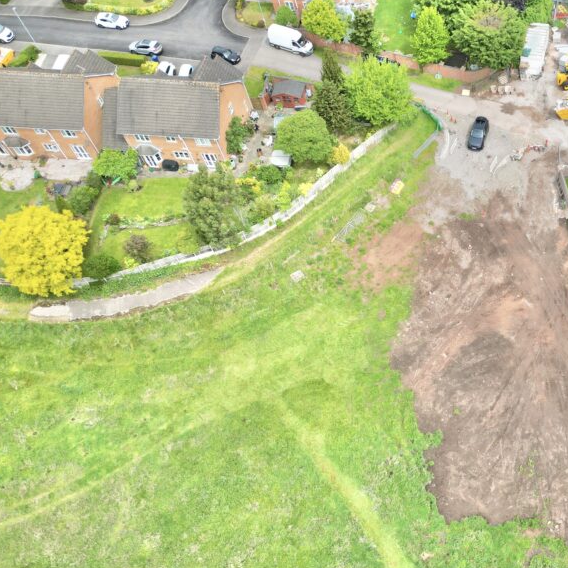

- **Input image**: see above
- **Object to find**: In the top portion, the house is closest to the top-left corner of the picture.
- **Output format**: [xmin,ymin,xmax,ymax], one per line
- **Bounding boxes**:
[0,49,120,166]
